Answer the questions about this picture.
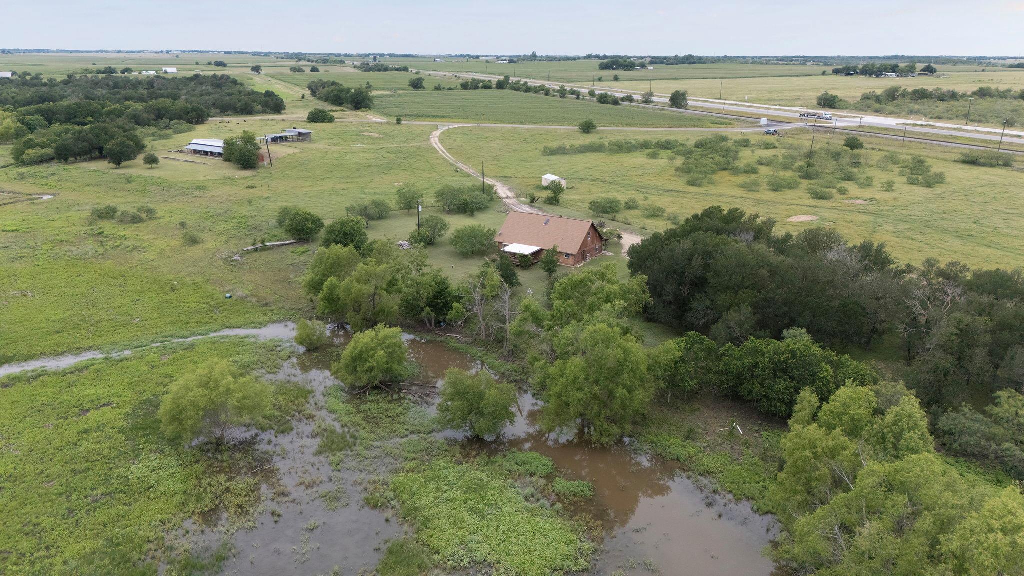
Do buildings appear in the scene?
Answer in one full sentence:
Yes, the image includes a building.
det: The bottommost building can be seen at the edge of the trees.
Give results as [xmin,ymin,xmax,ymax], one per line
[496,210,611,267]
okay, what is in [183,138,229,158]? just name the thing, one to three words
house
